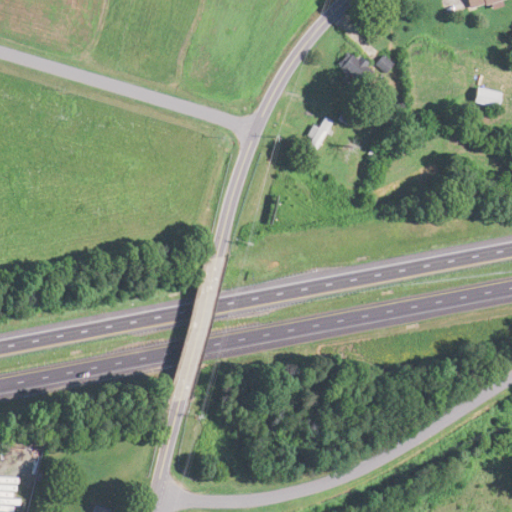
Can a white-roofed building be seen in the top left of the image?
No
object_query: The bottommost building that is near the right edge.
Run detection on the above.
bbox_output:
[476,87,504,106]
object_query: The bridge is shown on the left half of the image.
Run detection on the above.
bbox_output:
[168,256,226,403]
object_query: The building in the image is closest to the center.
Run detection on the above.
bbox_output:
[308,118,333,148]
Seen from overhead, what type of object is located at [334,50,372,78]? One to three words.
house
